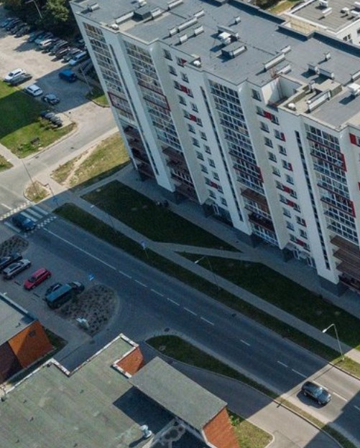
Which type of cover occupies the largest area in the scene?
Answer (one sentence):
Most of the picture is covered by buildings.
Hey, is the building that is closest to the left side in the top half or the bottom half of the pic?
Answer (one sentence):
The building that is closest to the left side sits in the bottom half of the picture.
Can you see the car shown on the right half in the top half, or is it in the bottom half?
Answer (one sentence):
Seen from above, the car shown on the right half lies in the bottom half of the view.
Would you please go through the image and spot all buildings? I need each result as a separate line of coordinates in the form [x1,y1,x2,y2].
[0,293,51,377]
[69,0,360,294]
[0,335,243,448]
